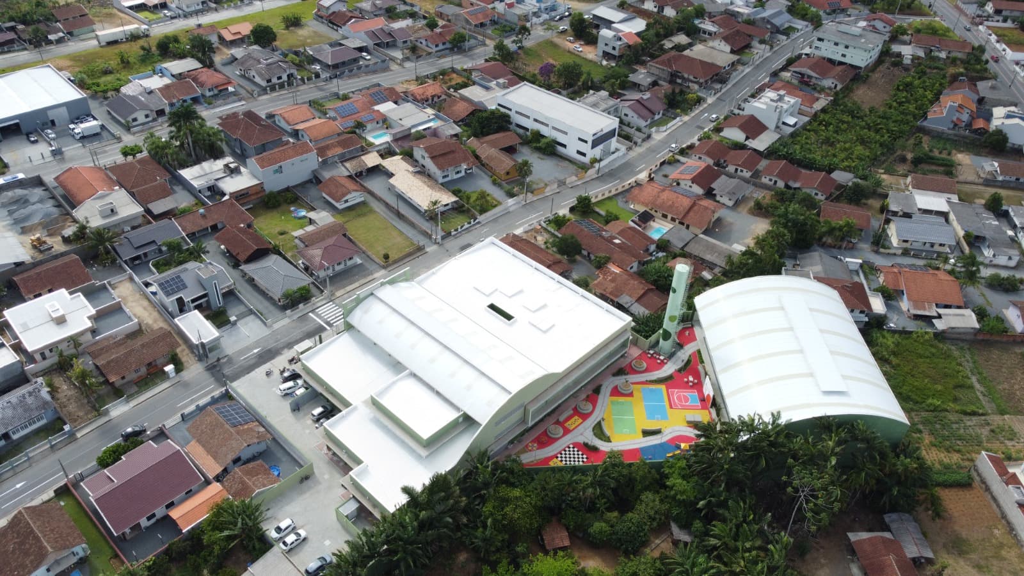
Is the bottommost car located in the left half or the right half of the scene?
left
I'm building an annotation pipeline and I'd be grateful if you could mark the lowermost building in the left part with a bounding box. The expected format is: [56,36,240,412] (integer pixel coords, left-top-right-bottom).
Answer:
[241,547,304,576]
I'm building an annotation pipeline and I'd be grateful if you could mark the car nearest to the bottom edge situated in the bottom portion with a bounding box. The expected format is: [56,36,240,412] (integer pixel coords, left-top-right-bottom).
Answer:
[302,549,334,575]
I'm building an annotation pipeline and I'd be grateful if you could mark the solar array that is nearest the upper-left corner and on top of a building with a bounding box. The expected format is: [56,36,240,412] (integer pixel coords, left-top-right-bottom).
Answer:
[157,274,187,294]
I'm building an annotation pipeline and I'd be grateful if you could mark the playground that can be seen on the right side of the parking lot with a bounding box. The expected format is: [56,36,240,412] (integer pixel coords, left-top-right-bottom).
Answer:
[524,328,726,466]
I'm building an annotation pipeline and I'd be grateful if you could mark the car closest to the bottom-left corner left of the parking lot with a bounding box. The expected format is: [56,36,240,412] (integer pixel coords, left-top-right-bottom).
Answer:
[119,421,148,439]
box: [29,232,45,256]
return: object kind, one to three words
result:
work vehicle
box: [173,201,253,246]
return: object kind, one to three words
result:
house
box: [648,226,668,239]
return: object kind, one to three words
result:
swimming pool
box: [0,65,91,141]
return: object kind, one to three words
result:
building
